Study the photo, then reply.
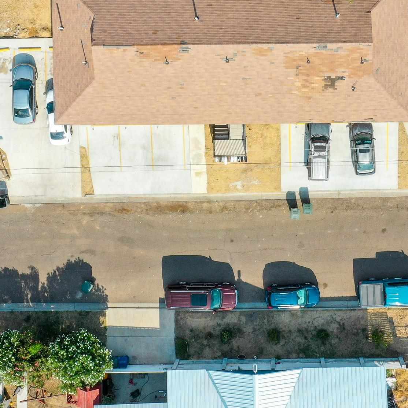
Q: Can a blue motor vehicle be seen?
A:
Yes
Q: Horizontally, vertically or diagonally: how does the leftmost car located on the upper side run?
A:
vertically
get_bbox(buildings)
[53,0,408,125]
[93,364,388,408]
